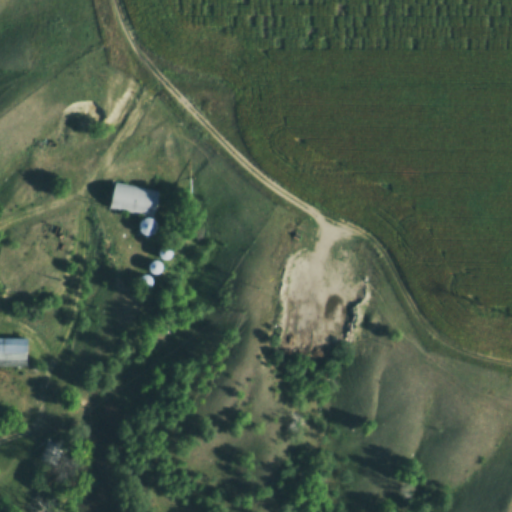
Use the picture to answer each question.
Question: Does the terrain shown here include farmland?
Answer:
Yes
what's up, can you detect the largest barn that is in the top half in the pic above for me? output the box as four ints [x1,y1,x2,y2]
[110,182,158,214]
